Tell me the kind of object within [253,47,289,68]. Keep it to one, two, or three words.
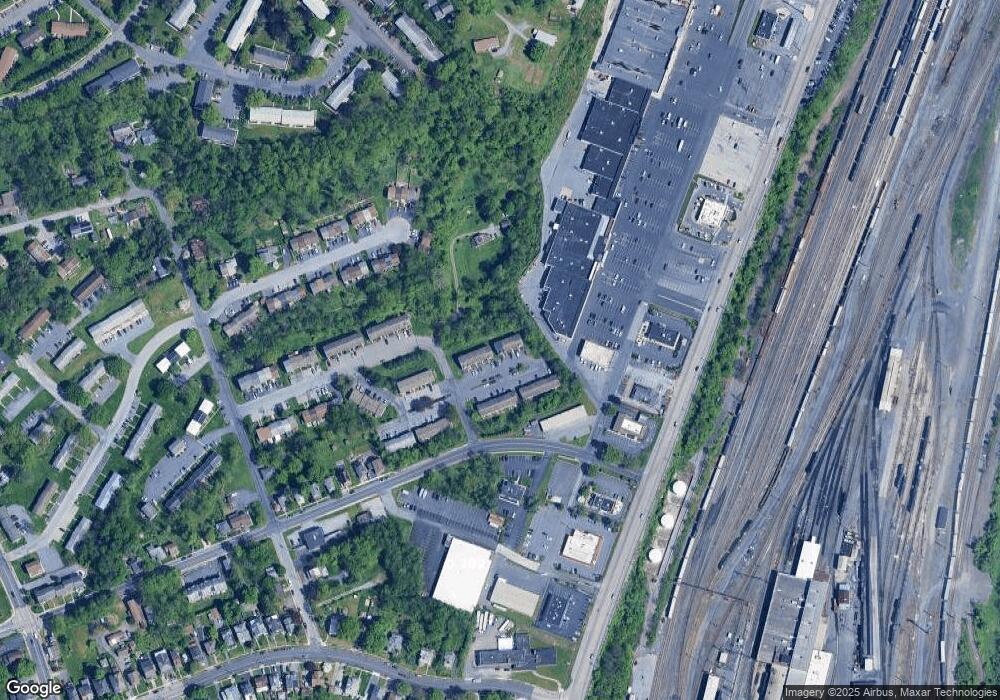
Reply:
building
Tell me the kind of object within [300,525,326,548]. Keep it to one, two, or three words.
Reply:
house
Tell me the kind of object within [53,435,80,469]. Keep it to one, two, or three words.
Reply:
building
